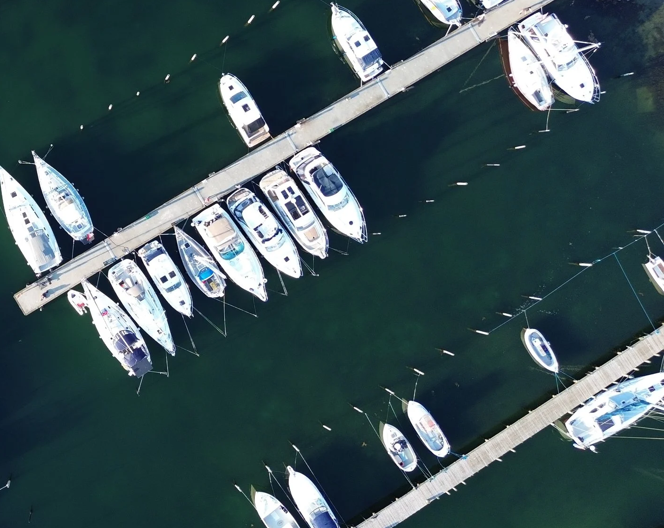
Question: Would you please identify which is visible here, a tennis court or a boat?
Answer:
boat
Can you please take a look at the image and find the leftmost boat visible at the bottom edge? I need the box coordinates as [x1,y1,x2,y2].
[253,489,298,528]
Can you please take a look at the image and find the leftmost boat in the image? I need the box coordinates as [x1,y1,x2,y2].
[0,164,62,274]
